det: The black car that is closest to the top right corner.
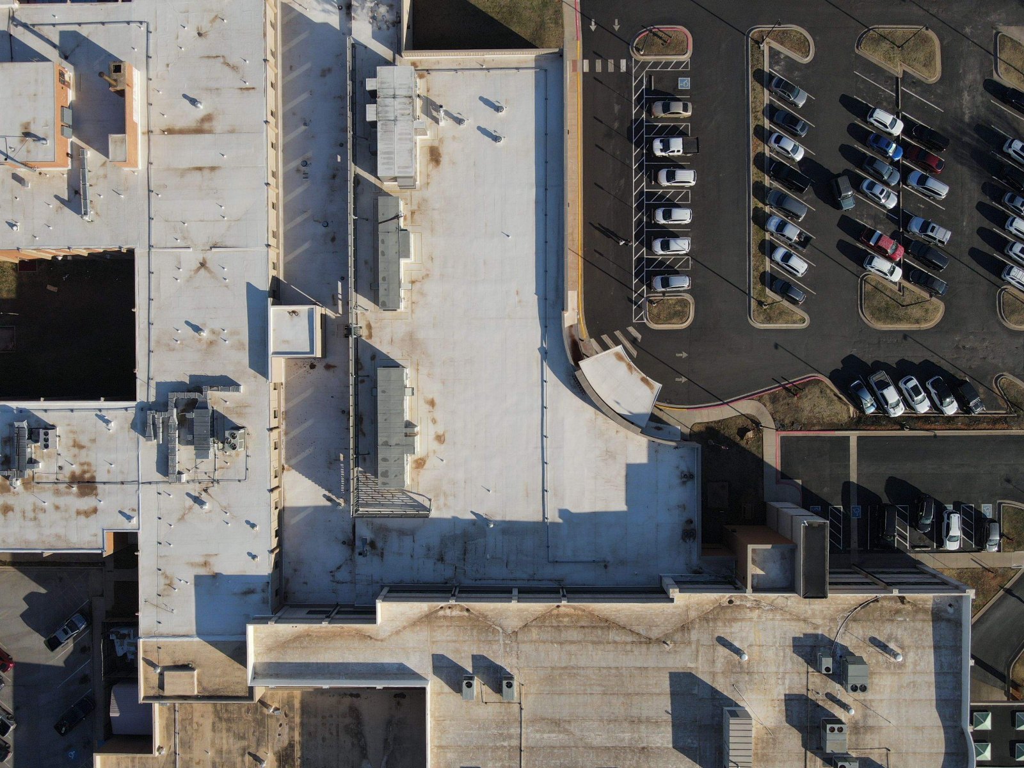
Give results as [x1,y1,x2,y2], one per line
[998,84,1024,116]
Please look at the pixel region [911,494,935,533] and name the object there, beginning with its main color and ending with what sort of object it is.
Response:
black car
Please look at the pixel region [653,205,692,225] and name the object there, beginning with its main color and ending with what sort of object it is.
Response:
white car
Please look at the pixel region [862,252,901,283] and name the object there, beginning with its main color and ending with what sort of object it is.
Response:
white car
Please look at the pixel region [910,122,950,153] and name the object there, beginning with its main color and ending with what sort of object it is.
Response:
black car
